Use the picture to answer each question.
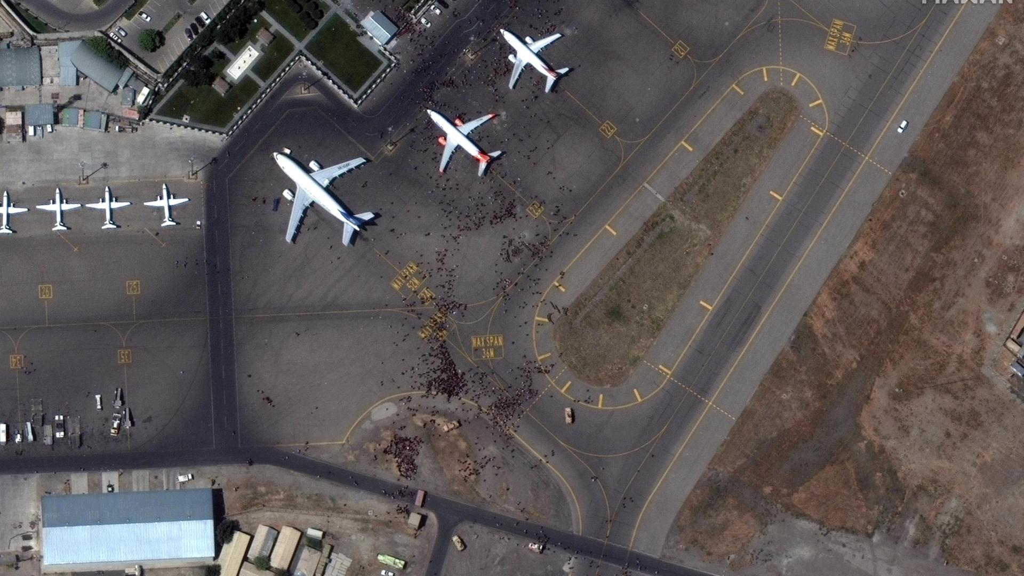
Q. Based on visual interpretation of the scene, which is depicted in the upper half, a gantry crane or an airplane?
airplane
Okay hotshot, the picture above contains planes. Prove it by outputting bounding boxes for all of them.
[85,186,130,226]
[144,183,189,224]
[36,188,81,228]
[273,153,374,245]
[500,29,569,91]
[0,191,28,231]
[427,110,502,174]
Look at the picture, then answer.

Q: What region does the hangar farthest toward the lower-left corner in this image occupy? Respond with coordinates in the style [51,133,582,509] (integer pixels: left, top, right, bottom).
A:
[42,488,214,571]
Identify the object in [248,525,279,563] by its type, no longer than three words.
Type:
shed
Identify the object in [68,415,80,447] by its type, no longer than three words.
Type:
vehicle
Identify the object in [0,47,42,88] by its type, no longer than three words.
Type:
building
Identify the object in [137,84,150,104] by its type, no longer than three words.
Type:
vehicle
